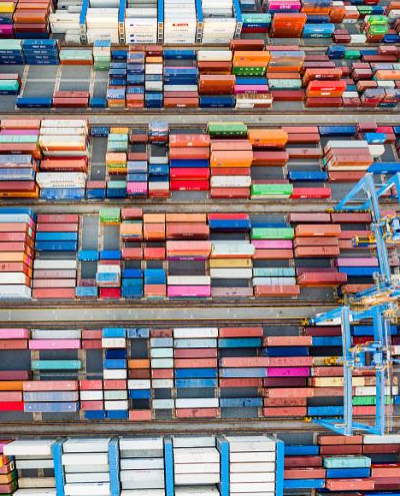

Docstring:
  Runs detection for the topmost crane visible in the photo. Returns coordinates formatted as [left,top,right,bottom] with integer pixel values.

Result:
[323,182,400,307]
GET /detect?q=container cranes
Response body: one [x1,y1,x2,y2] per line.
[323,182,400,307]
[300,312,400,449]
